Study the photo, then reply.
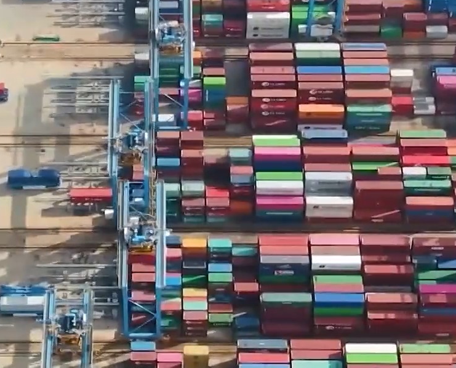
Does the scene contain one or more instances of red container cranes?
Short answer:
No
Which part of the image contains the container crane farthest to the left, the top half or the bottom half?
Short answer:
bottom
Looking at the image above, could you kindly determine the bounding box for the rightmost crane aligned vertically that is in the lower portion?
[114,183,170,343]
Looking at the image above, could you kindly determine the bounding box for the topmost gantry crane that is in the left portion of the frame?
[149,0,196,136]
